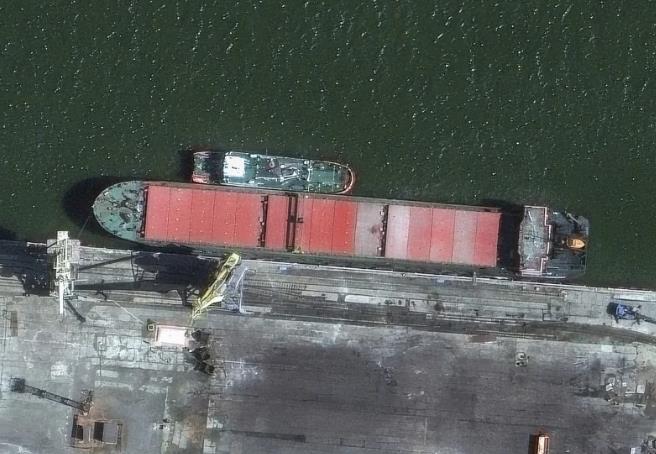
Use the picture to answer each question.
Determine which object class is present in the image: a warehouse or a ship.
ship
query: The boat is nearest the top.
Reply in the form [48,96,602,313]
[192,150,354,193]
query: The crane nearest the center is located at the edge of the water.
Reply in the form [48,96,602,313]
[190,247,256,325]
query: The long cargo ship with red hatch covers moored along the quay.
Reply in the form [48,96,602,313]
[90,181,591,275]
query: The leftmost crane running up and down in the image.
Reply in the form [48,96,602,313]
[43,234,86,321]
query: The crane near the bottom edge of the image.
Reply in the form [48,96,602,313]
[10,379,121,448]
